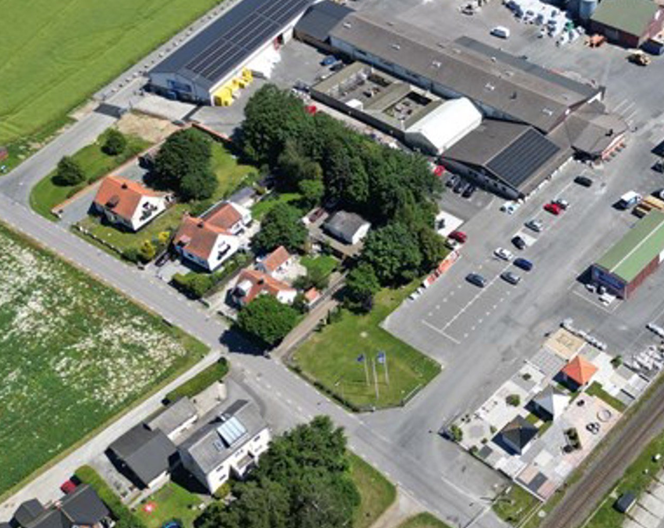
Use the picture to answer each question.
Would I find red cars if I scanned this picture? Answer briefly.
Yes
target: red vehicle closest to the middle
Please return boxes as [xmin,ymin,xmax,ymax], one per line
[446,228,468,245]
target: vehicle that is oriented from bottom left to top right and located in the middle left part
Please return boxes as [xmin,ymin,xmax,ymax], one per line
[151,250,173,267]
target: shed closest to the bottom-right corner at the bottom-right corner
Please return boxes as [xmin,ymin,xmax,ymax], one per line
[617,492,635,521]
